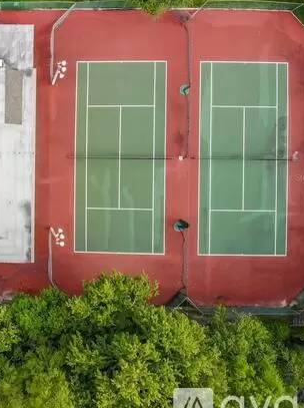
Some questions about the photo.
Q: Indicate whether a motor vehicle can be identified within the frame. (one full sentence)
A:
No, I find no motor vehicle anywhere in the image.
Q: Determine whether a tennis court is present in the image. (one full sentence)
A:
Yes, the picture does show a tennis court.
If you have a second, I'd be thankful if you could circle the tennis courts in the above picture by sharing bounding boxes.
[75,61,165,254]
[197,62,289,255]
